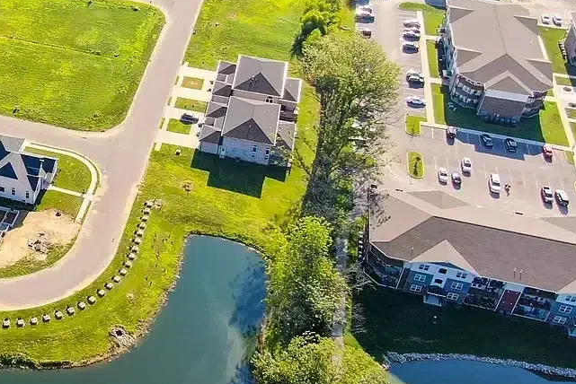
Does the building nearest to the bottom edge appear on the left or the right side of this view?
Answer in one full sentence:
You can find the building nearest to the bottom edge on the right side of the picture.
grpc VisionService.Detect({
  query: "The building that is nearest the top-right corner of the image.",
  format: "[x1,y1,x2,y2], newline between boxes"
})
[443,0,557,121]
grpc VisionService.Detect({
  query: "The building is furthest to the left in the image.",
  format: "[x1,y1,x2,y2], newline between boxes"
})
[0,125,65,204]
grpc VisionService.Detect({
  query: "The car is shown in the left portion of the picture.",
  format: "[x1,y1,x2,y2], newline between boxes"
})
[178,110,199,123]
